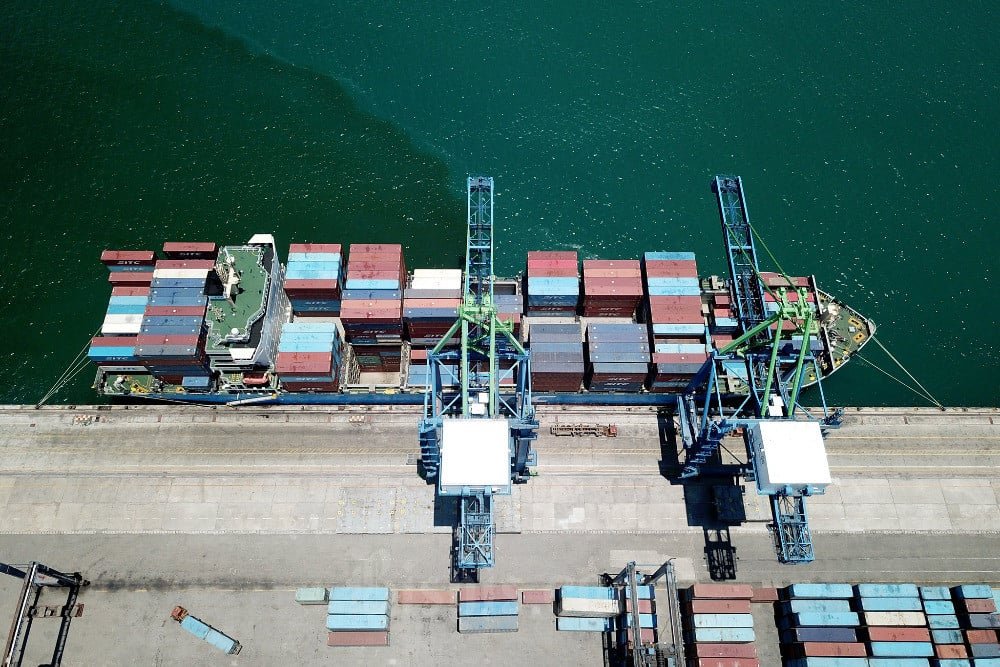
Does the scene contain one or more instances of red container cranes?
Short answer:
No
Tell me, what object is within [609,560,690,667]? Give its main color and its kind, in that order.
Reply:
gray container crane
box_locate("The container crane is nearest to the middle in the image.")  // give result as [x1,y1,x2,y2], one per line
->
[411,174,550,568]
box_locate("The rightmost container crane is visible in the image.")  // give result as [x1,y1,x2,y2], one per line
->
[668,175,848,569]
